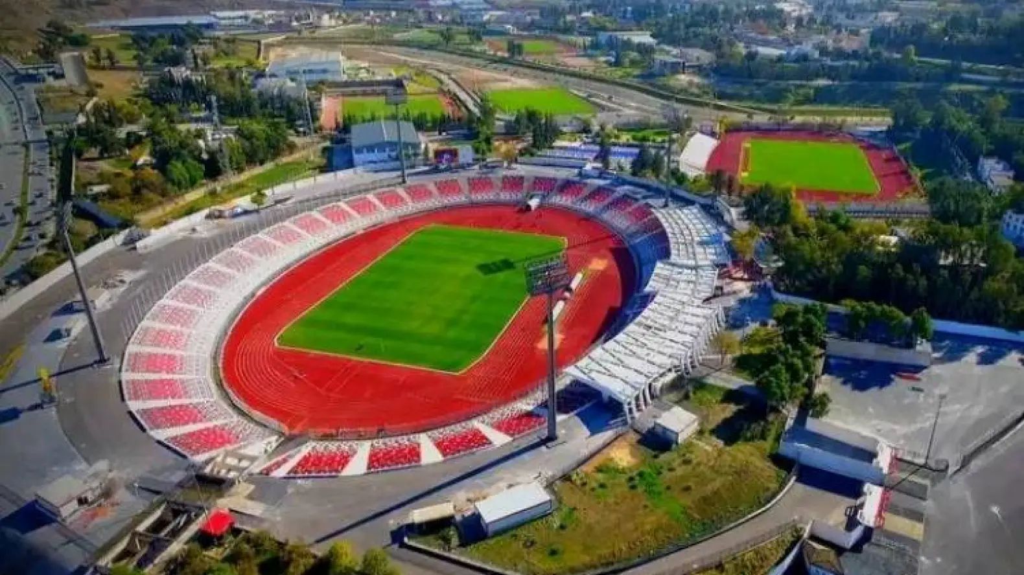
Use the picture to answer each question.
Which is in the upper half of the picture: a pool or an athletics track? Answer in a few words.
athletics track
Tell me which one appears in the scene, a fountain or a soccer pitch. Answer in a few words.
soccer pitch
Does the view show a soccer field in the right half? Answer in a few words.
Yes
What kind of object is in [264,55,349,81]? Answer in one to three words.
building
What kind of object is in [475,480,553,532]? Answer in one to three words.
shed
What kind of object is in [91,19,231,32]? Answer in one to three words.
building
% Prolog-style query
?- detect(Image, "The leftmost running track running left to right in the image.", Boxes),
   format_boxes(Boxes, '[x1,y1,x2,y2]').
[213,202,636,435]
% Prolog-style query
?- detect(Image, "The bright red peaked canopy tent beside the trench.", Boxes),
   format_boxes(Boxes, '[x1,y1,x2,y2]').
[199,513,236,542]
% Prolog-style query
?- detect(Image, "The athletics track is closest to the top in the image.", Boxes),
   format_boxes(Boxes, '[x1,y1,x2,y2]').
[708,129,924,203]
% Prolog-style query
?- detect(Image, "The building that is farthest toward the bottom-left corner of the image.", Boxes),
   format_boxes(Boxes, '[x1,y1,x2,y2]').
[35,473,102,526]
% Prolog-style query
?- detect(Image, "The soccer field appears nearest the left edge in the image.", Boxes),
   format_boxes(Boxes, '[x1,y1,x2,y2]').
[278,224,566,373]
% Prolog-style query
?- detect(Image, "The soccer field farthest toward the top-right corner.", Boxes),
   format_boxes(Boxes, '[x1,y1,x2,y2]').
[743,139,879,193]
